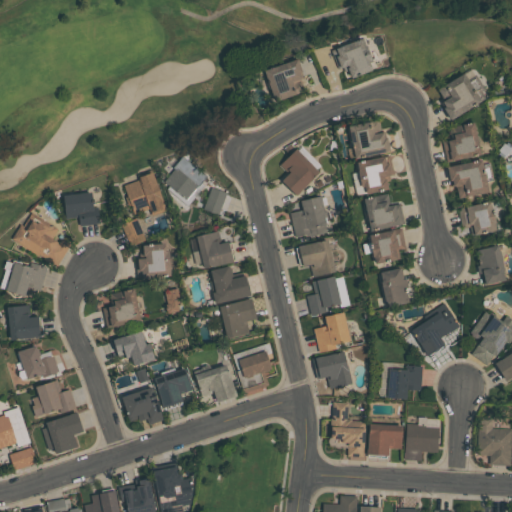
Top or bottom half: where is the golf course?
top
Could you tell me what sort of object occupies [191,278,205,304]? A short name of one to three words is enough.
swimming pool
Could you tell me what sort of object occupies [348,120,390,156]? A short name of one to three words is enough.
house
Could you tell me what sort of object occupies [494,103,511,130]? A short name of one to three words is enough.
swimming pool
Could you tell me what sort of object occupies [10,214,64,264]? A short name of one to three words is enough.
house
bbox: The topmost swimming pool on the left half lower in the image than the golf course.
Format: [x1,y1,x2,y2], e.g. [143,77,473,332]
[148,218,169,234]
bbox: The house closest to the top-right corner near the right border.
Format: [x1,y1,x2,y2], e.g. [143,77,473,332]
[440,72,488,116]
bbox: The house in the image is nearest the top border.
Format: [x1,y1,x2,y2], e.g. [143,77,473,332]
[332,38,376,77]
